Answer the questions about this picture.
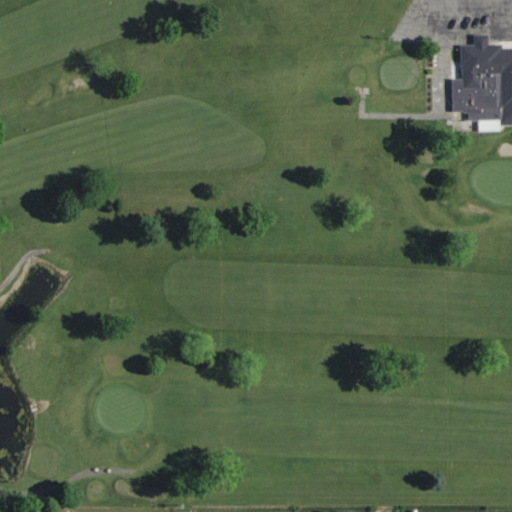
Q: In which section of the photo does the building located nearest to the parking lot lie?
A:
top right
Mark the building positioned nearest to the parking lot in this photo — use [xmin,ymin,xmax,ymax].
[453,35,512,132]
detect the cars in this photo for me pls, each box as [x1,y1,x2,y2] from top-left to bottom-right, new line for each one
[451,18,456,28]
[464,17,470,28]
[474,18,479,27]
[482,15,488,24]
